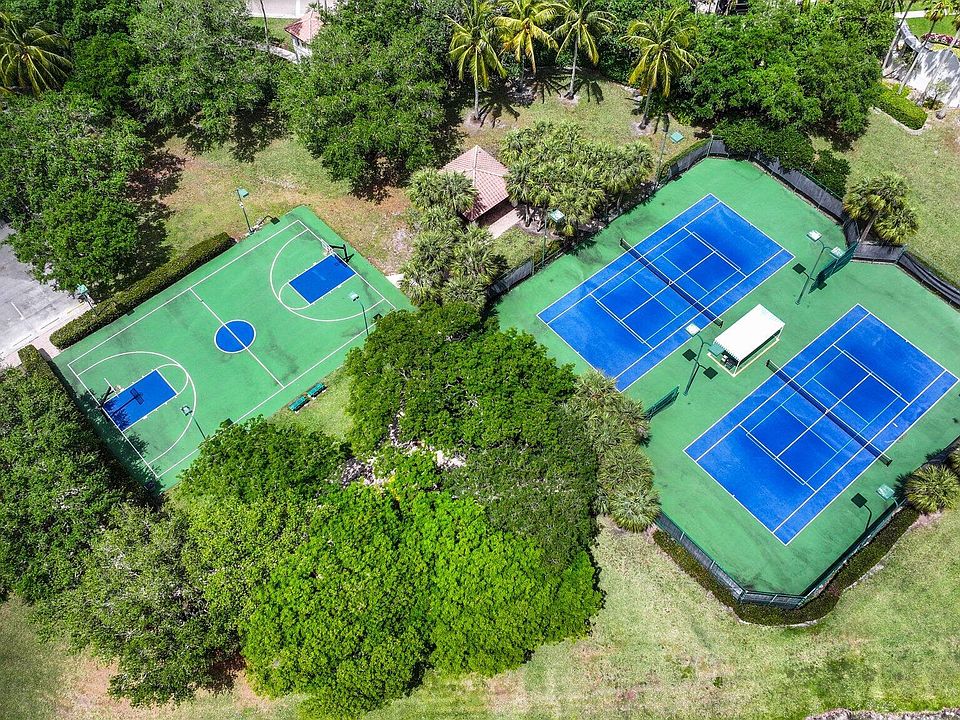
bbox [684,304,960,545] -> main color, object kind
blue tennis court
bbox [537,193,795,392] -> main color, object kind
blue tennis court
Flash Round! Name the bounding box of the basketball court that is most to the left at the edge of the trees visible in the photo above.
[49,205,412,494]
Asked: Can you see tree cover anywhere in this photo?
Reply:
Yes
